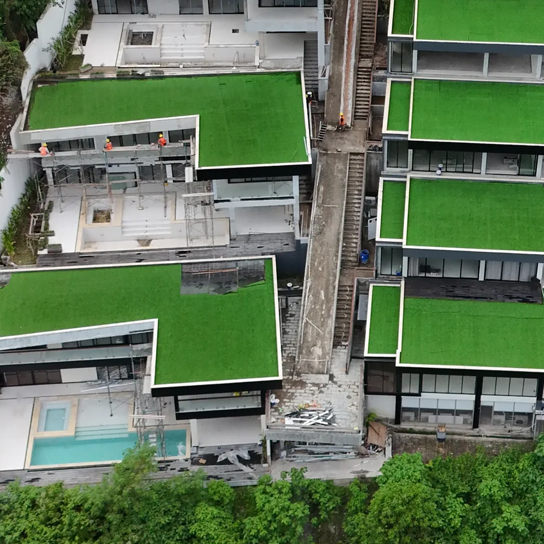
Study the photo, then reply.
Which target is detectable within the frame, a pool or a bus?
pool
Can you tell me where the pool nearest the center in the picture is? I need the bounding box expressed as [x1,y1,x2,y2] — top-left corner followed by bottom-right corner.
[77,192,230,251]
